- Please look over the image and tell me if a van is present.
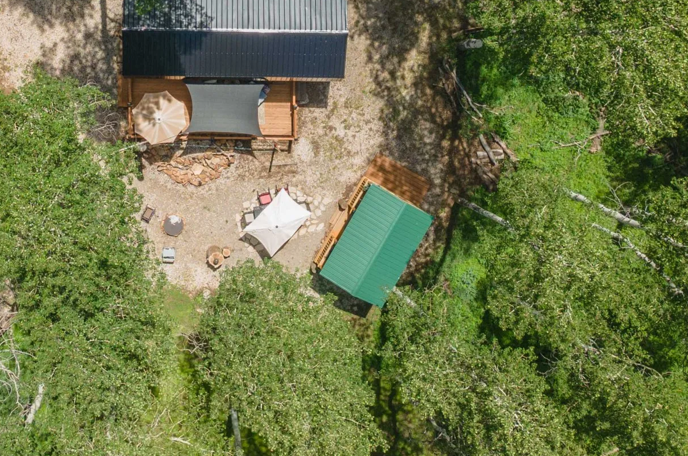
No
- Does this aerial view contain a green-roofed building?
Yes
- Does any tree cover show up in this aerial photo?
Yes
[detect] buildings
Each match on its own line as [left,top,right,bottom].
[319,183,434,308]
[121,0,349,85]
